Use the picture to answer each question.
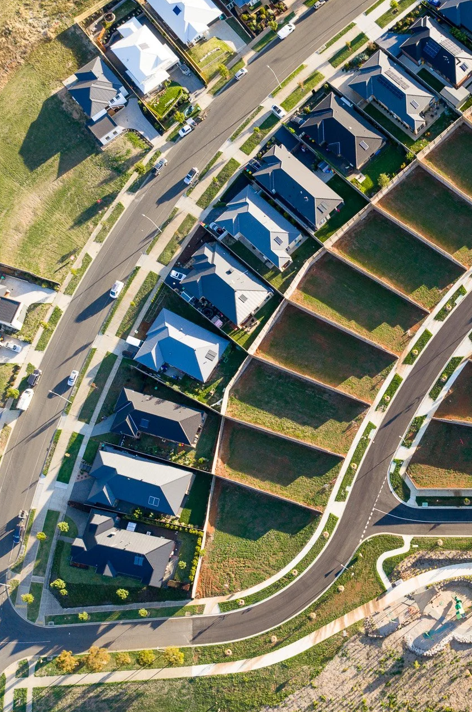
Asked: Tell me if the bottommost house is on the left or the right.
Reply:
left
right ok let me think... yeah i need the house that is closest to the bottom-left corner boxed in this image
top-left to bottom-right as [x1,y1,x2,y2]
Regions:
[68,509,178,590]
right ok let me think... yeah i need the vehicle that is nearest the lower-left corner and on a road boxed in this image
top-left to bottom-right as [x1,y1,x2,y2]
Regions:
[11,523,23,545]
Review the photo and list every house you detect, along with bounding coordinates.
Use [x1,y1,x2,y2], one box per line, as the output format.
[299,90,387,171]
[83,450,194,518]
[251,142,342,229]
[68,509,178,590]
[178,241,272,328]
[437,0,472,37]
[132,307,229,384]
[226,0,263,14]
[149,0,224,49]
[347,52,437,134]
[109,387,209,447]
[214,185,304,272]
[398,12,472,90]
[60,56,134,121]
[0,297,24,324]
[110,14,180,98]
